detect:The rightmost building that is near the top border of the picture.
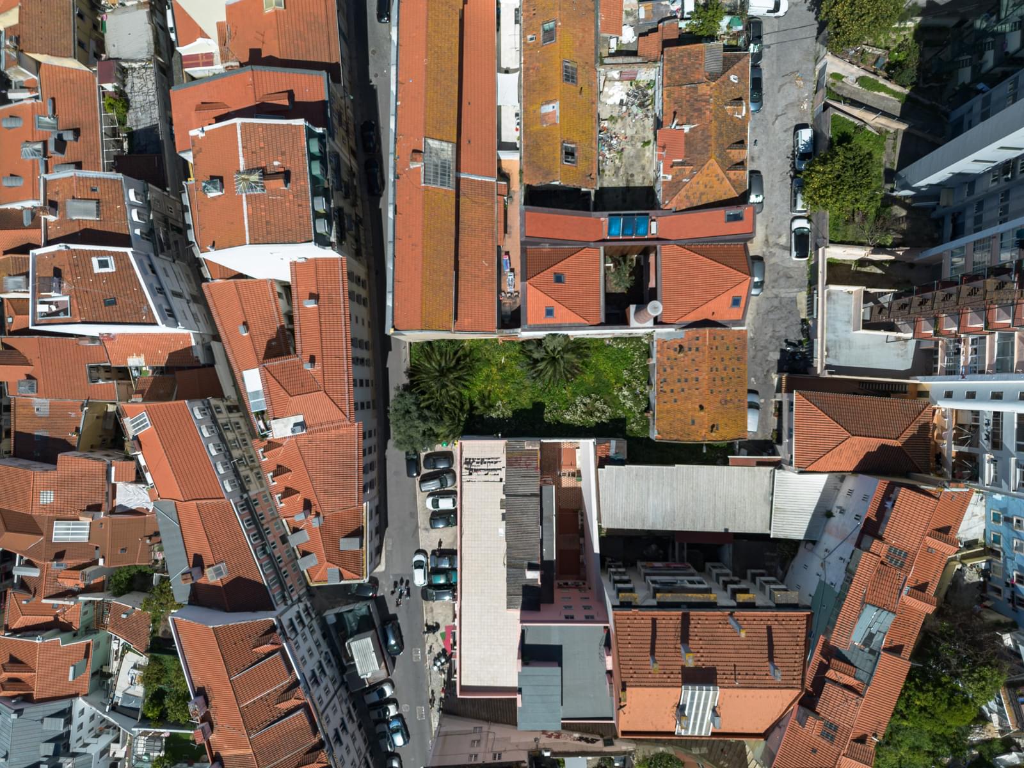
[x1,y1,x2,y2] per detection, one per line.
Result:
[886,0,1024,194]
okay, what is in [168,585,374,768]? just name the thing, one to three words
building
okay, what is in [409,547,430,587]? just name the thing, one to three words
car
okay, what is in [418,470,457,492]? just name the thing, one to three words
car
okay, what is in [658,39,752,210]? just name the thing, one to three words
house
